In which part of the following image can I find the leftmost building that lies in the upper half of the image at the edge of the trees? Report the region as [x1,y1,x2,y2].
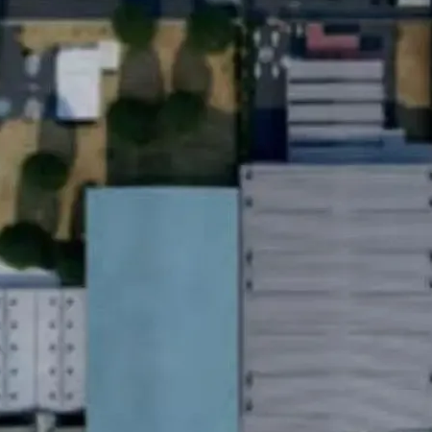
[56,48,101,123]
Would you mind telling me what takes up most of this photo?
buildings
